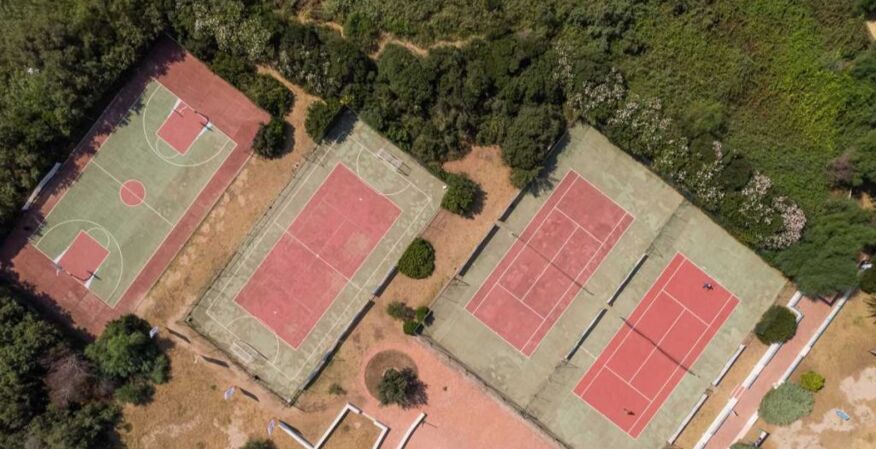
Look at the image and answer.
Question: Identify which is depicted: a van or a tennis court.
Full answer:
Visible in the photo is a tennis court.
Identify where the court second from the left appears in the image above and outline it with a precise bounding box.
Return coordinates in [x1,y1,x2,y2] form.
[186,112,443,403]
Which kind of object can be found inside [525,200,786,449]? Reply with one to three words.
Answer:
tennis court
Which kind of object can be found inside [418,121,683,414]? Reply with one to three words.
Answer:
tennis court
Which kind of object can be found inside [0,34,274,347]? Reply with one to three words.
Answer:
basketball court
